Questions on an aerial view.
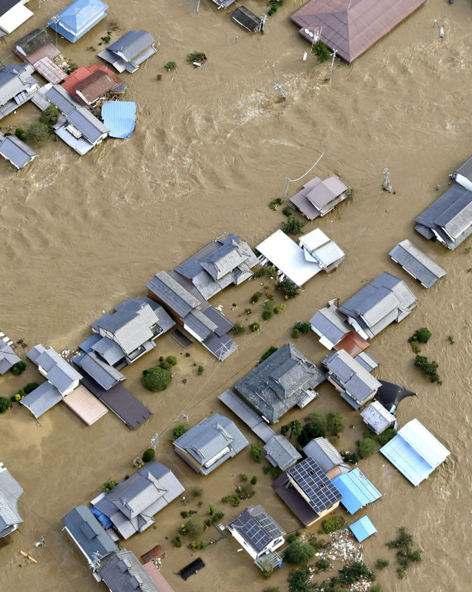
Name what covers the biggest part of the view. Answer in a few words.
water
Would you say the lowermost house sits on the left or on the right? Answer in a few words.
left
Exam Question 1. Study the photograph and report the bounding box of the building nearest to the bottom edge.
[99,553,168,592]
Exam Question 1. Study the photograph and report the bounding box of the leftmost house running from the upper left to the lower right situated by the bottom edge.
[61,506,117,568]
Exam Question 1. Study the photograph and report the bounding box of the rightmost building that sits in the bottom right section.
[379,421,452,488]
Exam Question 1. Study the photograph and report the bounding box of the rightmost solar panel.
[289,458,340,511]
